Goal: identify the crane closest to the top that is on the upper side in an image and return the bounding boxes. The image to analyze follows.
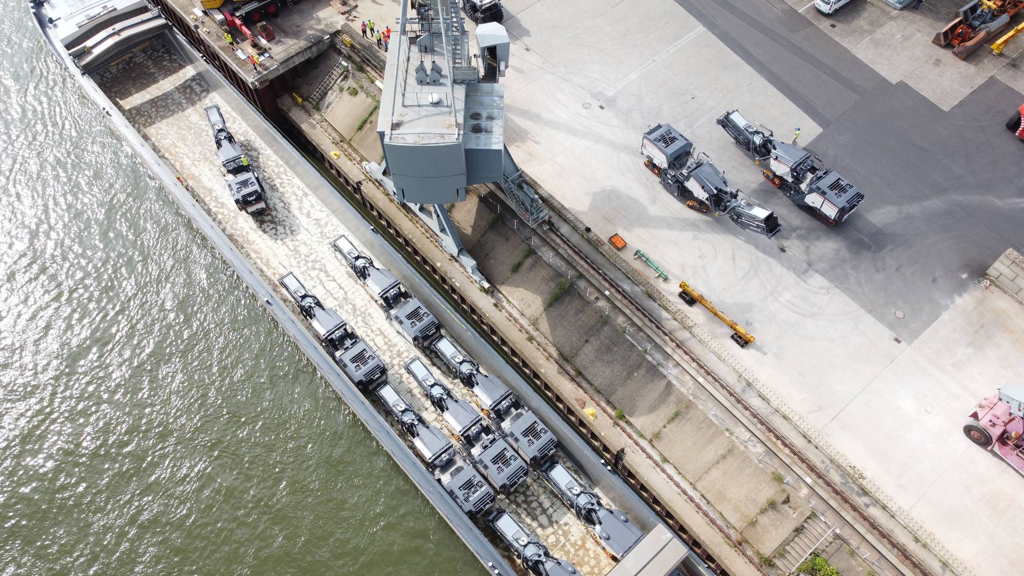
[189,0,275,44]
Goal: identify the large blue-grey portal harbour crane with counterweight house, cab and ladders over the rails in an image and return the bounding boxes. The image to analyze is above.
[356,0,564,302]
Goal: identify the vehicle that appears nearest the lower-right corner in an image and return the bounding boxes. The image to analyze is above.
[961,376,1024,473]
